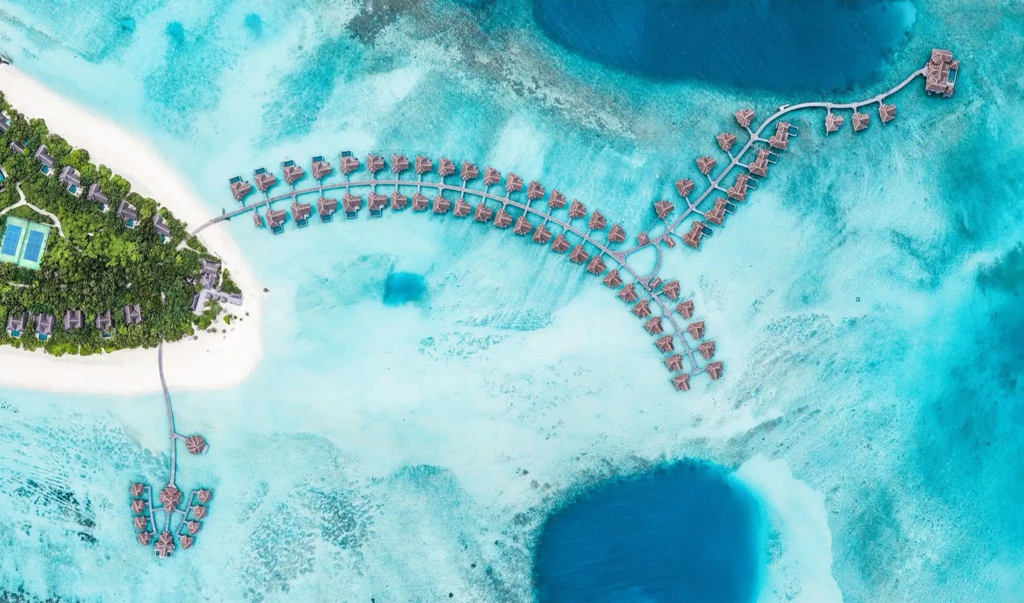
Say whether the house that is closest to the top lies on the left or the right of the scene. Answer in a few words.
right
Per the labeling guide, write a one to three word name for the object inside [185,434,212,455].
building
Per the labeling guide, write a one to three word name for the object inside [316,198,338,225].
house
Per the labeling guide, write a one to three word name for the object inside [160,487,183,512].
building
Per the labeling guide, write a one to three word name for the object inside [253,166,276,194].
house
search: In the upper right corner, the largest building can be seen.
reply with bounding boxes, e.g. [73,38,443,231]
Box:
[921,48,960,98]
